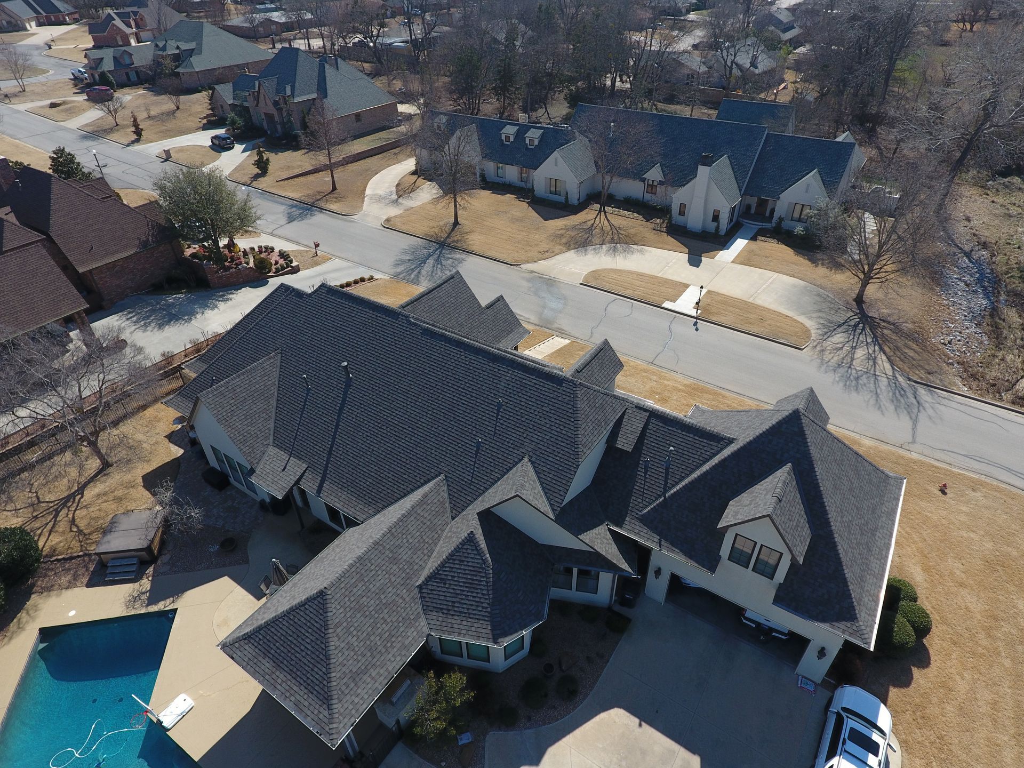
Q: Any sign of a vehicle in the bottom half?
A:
Yes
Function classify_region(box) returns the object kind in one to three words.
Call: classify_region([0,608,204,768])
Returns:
swimming pool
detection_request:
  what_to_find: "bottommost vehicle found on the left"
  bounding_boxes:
[213,132,238,149]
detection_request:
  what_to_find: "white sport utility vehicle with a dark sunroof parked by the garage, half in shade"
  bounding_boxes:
[813,683,894,768]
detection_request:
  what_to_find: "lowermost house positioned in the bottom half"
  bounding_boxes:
[159,270,913,768]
